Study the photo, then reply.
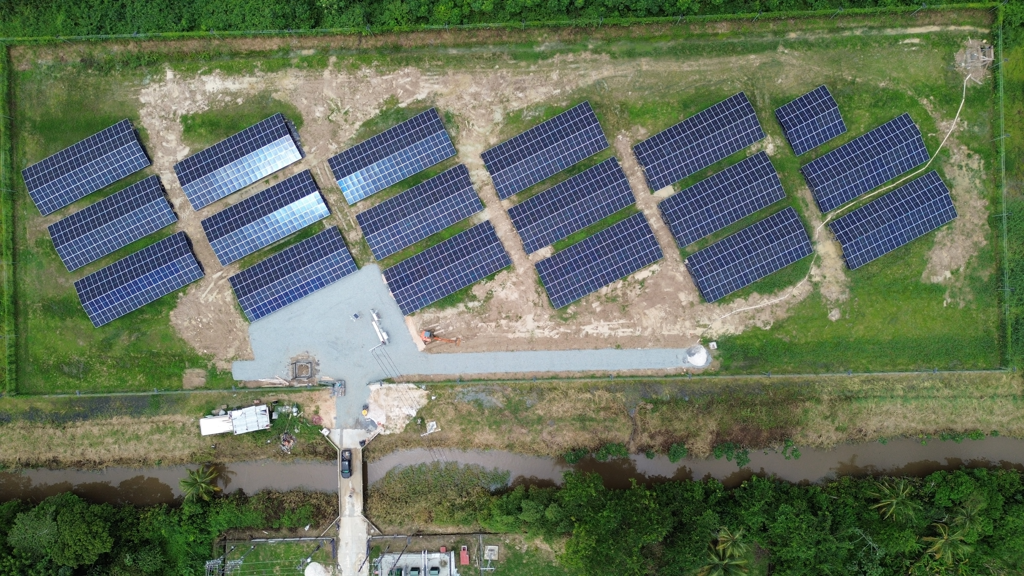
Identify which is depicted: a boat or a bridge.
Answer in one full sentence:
This aerial view contains a bridge.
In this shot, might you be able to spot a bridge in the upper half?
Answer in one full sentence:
No, no bridge appears in the upper half.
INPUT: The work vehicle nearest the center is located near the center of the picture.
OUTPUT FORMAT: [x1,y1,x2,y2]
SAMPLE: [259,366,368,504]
[418,327,457,345]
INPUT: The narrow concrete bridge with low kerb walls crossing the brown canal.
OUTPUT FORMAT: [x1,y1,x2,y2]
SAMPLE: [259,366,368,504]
[318,430,382,537]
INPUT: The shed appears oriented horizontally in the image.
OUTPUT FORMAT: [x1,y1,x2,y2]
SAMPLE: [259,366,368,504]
[195,405,270,438]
